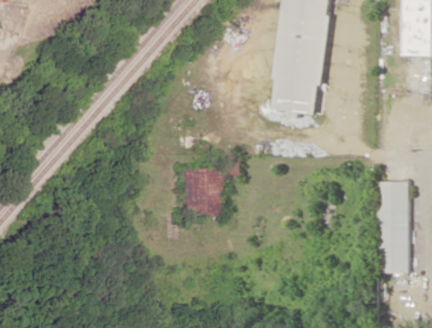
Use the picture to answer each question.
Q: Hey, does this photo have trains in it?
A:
No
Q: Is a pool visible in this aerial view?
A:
No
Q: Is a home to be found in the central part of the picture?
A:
Yes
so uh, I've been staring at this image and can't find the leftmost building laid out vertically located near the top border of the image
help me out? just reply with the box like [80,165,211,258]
[272,0,330,114]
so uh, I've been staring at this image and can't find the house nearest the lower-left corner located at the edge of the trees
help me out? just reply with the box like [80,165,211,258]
[184,170,224,215]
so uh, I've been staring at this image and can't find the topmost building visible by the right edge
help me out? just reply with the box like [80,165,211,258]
[399,0,432,57]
